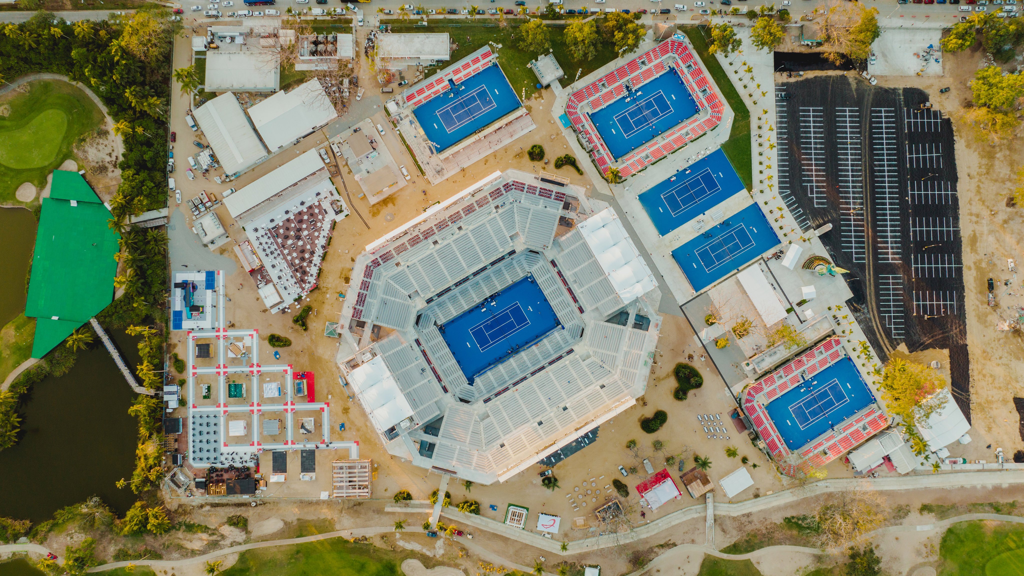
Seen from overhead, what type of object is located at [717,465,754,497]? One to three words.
tent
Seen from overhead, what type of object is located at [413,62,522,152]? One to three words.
tennis court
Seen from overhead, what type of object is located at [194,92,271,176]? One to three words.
building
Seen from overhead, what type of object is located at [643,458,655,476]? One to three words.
vehicle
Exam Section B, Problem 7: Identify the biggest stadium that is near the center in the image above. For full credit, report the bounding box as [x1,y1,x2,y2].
[329,168,666,486]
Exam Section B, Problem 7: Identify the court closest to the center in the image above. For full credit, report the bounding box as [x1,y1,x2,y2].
[440,272,561,382]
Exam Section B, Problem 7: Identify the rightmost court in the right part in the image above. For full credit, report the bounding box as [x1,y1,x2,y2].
[766,356,875,451]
